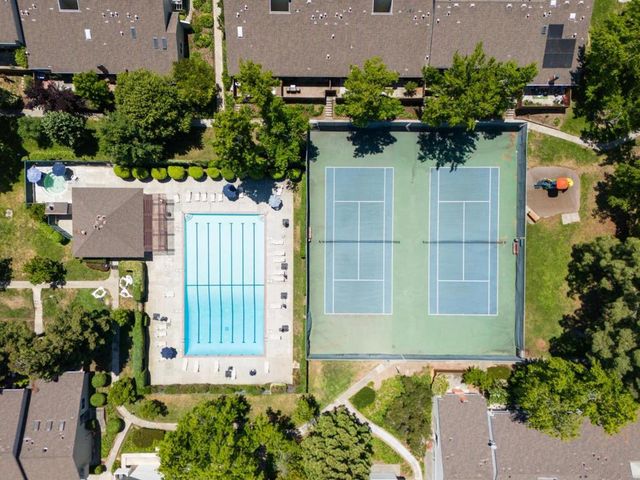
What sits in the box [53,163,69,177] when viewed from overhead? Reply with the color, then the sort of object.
blue umbrella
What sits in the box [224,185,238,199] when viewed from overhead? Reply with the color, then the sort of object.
blue umbrella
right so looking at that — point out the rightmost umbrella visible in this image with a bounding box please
[269,194,282,208]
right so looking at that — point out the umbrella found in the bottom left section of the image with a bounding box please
[161,346,174,359]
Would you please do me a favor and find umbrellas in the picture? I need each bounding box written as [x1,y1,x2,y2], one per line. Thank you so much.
[53,163,69,177]
[29,168,44,182]
[224,185,238,199]
[161,346,174,359]
[269,194,282,208]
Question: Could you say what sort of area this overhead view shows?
residential area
